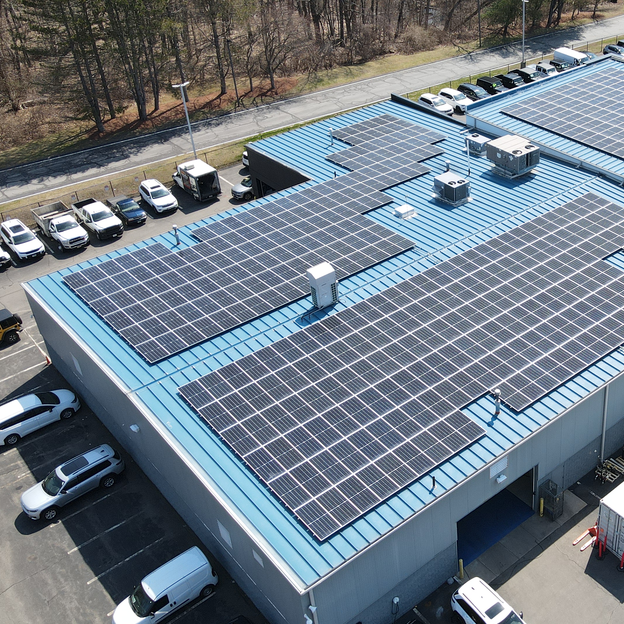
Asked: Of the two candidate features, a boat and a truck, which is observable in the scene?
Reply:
truck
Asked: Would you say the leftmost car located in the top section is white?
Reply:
Yes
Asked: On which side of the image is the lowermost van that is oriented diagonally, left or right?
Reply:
left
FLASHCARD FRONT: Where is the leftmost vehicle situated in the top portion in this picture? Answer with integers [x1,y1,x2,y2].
[6,221,51,263]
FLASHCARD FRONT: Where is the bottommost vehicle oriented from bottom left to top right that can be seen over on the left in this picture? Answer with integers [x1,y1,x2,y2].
[112,547,220,624]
